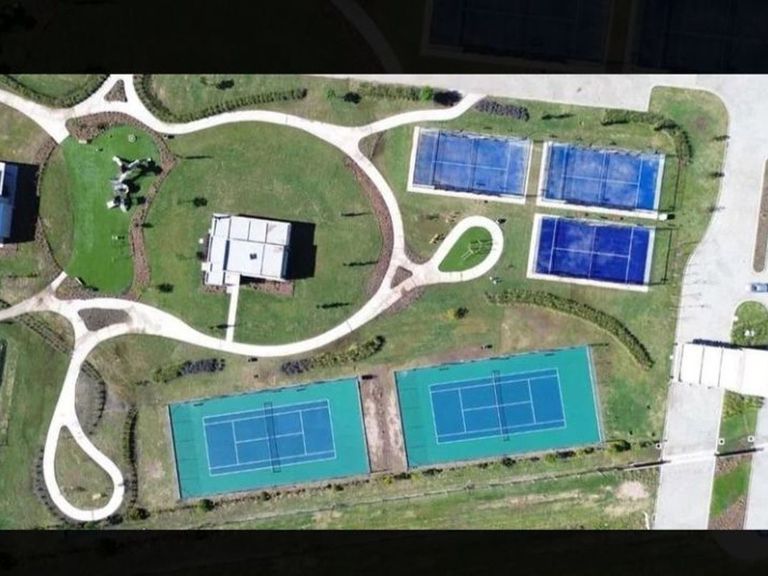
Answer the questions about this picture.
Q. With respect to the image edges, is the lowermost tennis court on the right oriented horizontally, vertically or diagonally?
horizontally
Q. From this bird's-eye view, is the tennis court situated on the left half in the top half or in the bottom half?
bottom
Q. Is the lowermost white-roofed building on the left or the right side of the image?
left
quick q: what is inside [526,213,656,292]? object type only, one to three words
sports court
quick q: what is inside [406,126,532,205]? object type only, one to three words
sports court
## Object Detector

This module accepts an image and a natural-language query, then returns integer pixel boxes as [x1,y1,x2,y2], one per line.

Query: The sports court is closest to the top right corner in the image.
[537,141,665,218]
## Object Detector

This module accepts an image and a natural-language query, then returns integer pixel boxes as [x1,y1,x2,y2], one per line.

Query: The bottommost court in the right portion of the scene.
[392,343,604,472]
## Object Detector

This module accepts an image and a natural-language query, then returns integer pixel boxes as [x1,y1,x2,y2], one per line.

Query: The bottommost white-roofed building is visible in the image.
[205,214,292,285]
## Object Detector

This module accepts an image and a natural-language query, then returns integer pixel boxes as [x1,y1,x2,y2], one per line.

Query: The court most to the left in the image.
[166,375,373,502]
